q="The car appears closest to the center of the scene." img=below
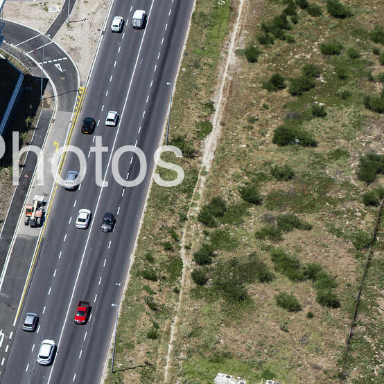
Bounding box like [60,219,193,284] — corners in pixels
[100,211,116,234]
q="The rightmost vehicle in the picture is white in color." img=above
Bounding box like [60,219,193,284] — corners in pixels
[131,10,146,29]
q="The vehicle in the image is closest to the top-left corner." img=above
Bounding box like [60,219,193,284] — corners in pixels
[111,18,124,32]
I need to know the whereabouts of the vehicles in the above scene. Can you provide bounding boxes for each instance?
[131,10,146,29]
[105,111,119,128]
[38,340,56,366]
[81,118,95,135]
[75,209,91,230]
[111,18,124,32]
[74,297,92,327]
[22,312,39,333]
[26,195,45,223]
[100,211,116,234]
